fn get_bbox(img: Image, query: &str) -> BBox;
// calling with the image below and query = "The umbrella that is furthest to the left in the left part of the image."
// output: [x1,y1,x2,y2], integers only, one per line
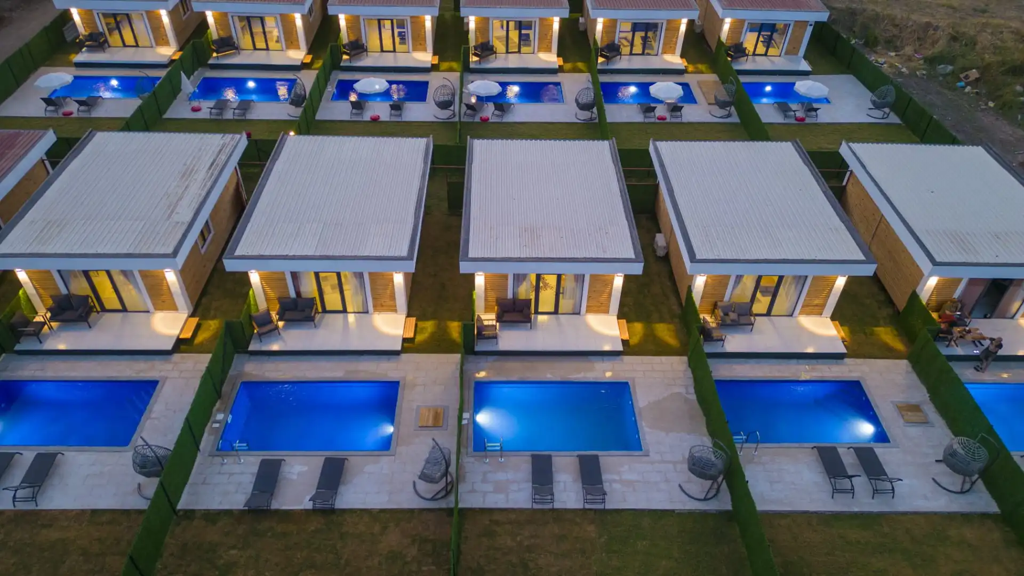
[31,74,73,115]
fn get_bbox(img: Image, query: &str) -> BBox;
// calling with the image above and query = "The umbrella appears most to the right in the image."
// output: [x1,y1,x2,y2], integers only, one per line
[791,81,829,120]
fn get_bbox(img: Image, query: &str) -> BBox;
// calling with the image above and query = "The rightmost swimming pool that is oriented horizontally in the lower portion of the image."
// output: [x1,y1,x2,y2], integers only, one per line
[714,376,900,449]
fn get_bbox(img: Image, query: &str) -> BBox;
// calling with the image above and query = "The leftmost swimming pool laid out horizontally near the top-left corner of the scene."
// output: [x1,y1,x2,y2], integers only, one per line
[43,74,165,100]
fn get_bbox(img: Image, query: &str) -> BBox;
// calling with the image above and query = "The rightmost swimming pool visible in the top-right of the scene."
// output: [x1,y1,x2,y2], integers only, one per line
[745,81,836,108]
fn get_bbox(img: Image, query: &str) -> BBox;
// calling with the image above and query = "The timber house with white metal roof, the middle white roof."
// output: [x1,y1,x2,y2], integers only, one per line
[459,135,645,357]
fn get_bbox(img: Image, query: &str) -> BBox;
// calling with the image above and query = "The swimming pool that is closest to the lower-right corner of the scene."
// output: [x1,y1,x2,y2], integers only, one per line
[960,378,1024,458]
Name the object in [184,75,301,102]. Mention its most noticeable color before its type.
blue swimming pool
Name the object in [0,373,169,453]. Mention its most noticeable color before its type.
blue swimming pool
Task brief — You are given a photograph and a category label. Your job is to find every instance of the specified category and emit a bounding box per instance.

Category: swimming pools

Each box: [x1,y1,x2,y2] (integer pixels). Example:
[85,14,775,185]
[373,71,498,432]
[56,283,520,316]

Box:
[603,80,703,107]
[43,74,165,100]
[0,373,169,453]
[326,77,433,104]
[714,376,900,449]
[462,78,568,105]
[207,375,407,457]
[745,81,836,108]
[960,378,1024,458]
[184,75,301,102]
[465,376,650,458]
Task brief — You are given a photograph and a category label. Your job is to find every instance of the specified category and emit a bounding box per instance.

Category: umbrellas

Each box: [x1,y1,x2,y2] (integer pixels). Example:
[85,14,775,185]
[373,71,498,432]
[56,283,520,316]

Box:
[465,80,502,120]
[31,74,73,115]
[791,81,829,120]
[352,79,391,119]
[648,80,685,120]
[184,71,201,110]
